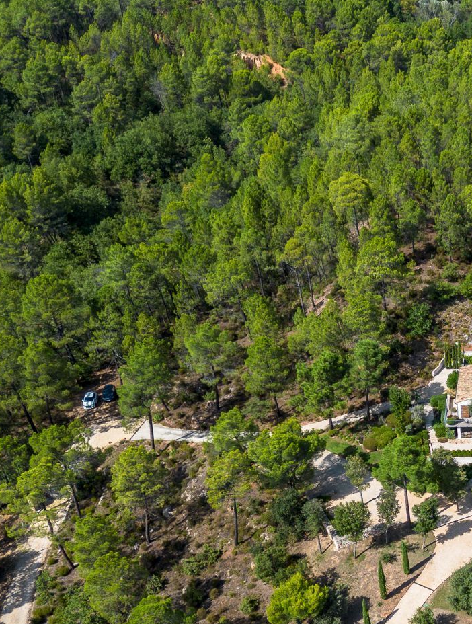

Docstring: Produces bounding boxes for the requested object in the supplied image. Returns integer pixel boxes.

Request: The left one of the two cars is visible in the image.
[79,391,96,410]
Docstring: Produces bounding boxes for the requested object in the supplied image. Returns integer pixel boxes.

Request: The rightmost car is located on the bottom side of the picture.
[99,383,116,402]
